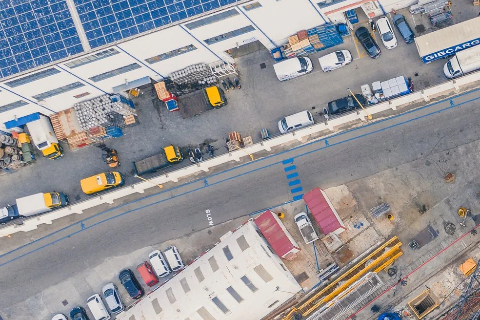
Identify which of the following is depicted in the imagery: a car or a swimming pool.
car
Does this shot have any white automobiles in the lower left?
Yes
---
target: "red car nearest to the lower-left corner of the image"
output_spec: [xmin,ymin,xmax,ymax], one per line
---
[137,260,161,288]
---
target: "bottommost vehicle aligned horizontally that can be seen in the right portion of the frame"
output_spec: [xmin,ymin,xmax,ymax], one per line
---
[281,110,319,134]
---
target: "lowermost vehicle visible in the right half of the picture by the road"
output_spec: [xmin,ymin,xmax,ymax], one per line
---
[298,210,322,246]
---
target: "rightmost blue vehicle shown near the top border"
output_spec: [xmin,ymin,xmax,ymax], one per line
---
[393,12,414,47]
